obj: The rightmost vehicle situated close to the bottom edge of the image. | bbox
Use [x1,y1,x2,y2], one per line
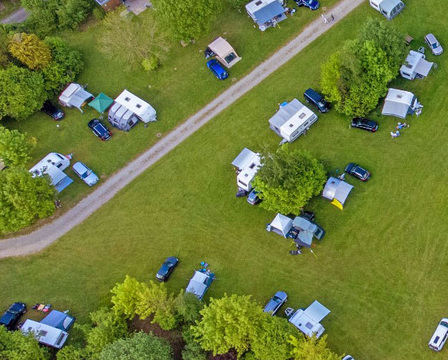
[428,320,448,353]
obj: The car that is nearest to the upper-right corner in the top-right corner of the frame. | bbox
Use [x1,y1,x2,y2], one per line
[426,34,444,56]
